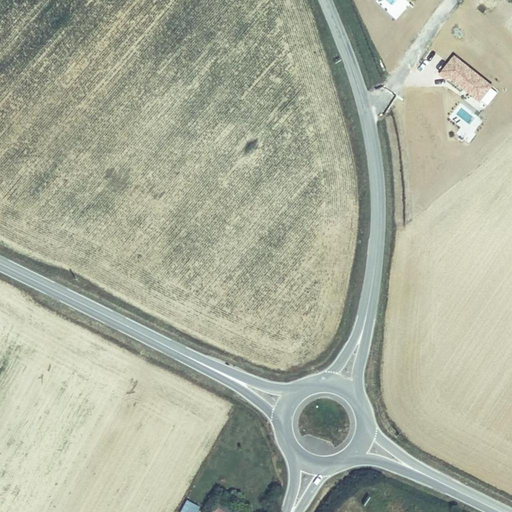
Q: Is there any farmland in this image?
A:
Yes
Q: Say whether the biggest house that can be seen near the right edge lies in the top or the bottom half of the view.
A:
top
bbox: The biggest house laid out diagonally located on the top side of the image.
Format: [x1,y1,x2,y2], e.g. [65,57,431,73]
[440,52,498,108]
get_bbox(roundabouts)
[268,370,378,478]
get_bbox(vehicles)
[436,60,446,70]
[427,50,435,61]
[313,475,322,486]
[434,79,445,84]
[418,60,426,71]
